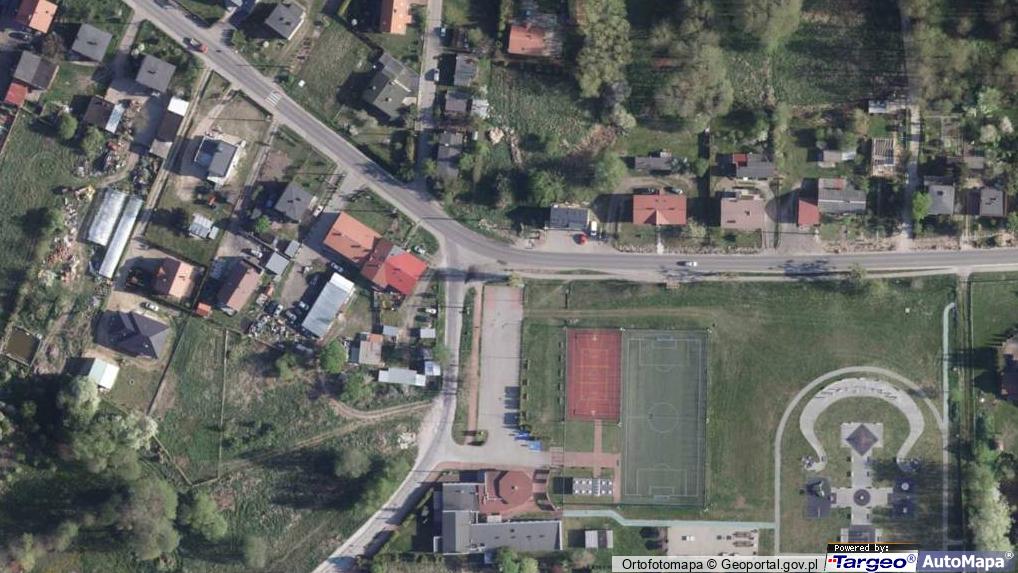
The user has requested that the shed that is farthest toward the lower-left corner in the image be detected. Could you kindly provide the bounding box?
[89,358,119,389]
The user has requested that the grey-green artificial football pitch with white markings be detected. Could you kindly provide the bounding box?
[620,329,707,505]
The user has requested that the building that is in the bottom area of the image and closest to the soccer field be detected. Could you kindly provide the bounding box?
[573,478,614,494]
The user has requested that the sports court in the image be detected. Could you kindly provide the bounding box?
[567,330,621,422]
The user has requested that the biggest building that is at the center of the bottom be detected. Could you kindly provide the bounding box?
[432,471,563,554]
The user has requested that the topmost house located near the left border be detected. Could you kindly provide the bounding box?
[16,0,59,33]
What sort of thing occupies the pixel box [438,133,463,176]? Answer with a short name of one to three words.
house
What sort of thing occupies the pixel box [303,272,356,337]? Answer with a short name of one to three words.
building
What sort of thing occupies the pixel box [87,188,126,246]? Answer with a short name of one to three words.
greenhouse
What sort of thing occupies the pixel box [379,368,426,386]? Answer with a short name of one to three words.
shed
